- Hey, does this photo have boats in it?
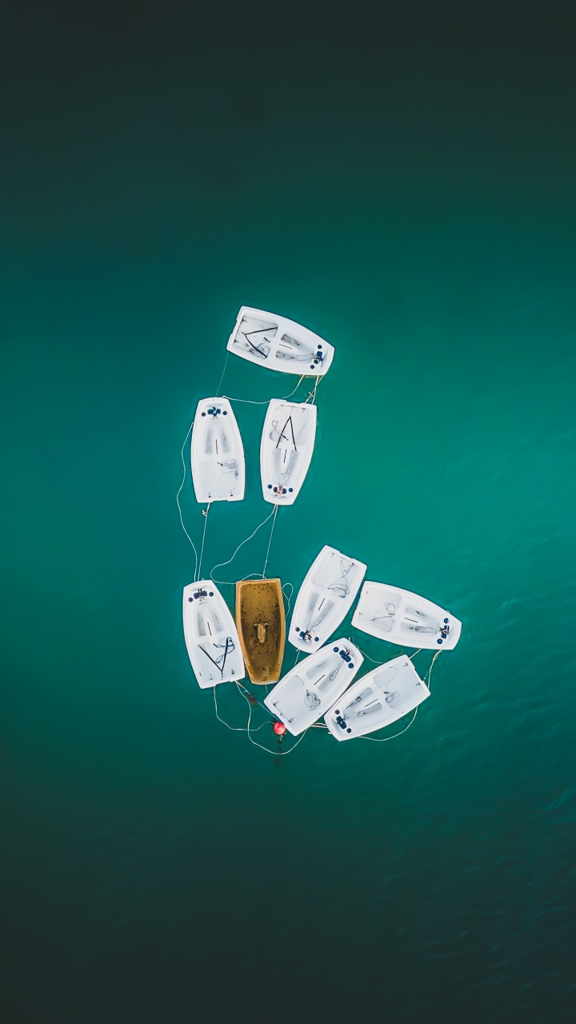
Yes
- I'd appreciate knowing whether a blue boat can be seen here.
No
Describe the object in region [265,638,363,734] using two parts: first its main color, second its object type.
white boat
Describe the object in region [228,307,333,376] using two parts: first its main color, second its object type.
white boat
